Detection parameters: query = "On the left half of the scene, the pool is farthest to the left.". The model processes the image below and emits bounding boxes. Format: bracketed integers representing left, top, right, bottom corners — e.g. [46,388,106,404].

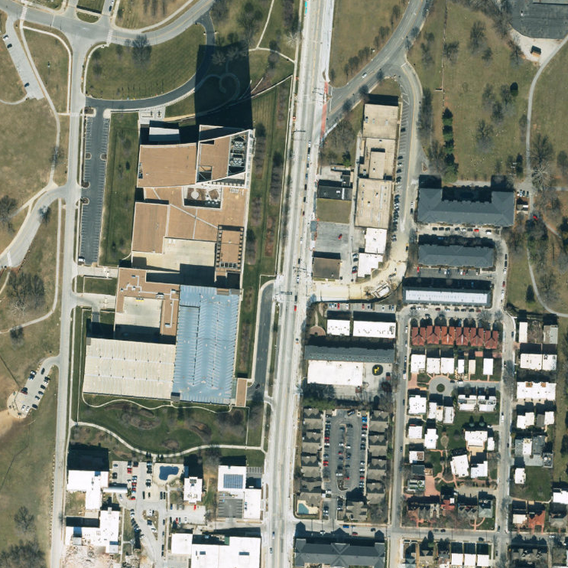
[159,465,179,480]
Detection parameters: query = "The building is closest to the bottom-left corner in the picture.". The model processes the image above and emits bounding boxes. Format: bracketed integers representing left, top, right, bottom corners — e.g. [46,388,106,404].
[66,526,100,545]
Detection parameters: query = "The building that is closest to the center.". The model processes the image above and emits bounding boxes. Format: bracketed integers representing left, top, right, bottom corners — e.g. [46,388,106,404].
[313,257,341,279]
